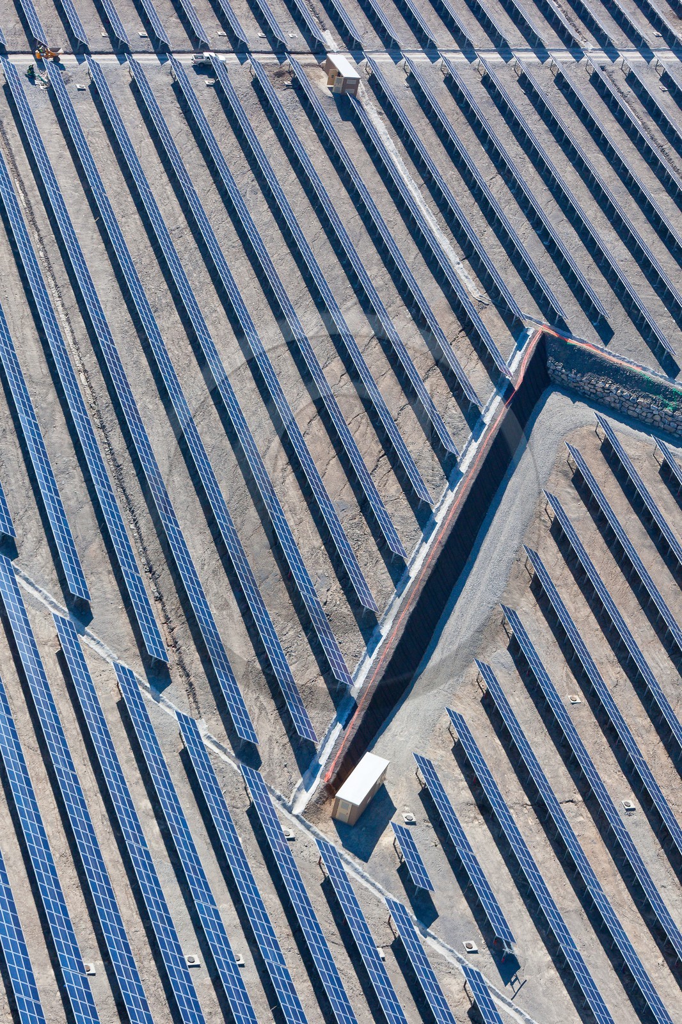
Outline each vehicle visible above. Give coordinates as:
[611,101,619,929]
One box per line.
[34,47,66,64]
[191,51,227,67]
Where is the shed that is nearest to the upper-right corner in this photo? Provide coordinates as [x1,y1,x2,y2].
[331,53,361,94]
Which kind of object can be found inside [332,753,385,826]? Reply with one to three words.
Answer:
shed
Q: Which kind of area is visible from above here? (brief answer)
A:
solar farm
